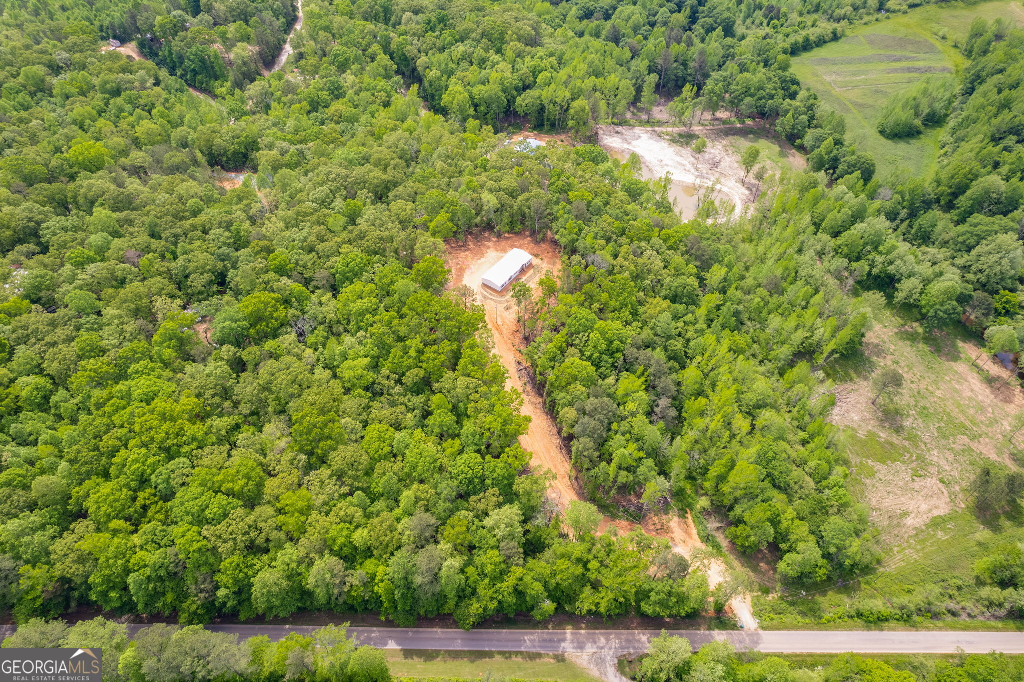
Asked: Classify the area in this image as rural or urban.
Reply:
rural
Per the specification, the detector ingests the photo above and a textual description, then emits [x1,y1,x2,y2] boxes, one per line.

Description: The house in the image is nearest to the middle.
[481,248,533,292]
